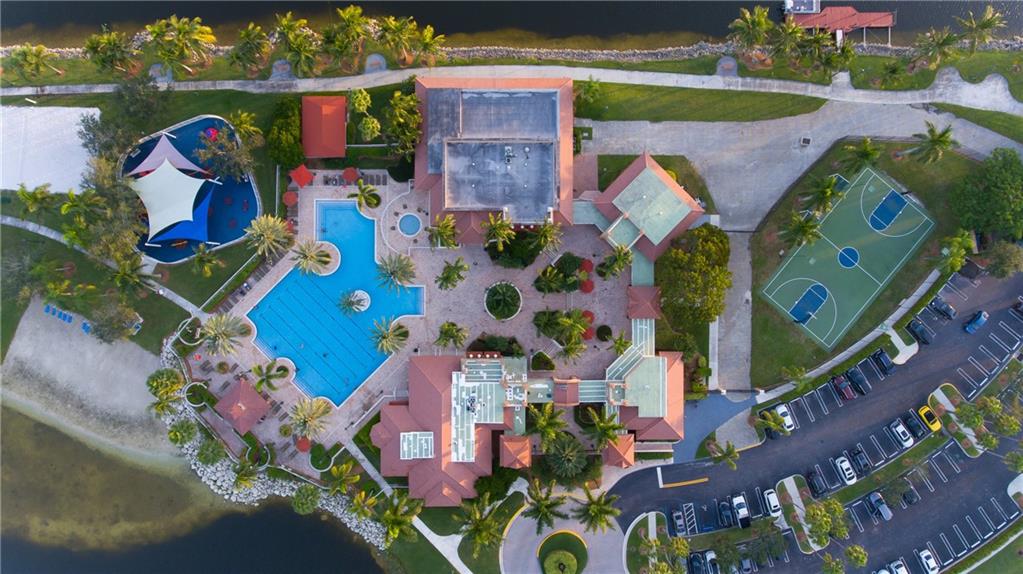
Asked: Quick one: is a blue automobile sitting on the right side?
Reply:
Yes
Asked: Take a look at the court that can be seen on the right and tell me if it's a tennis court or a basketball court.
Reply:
basketball court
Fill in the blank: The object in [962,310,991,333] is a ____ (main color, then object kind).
blue car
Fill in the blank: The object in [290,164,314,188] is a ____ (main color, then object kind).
red umbrella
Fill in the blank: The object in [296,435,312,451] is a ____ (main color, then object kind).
red umbrella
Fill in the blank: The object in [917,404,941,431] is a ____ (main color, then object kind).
yellow car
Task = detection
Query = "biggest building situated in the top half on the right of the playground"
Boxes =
[415,78,600,245]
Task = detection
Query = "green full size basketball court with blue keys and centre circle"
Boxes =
[759,165,939,353]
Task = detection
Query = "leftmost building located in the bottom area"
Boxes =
[213,376,273,436]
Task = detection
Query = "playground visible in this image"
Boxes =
[124,110,261,264]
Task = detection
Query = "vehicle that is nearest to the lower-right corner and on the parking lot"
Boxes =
[918,547,941,574]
